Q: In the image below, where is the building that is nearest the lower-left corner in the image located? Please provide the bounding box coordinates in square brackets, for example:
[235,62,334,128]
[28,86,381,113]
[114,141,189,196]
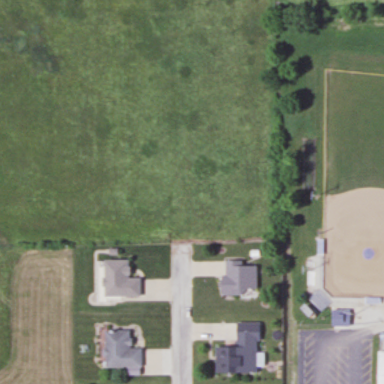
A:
[106,330,144,376]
